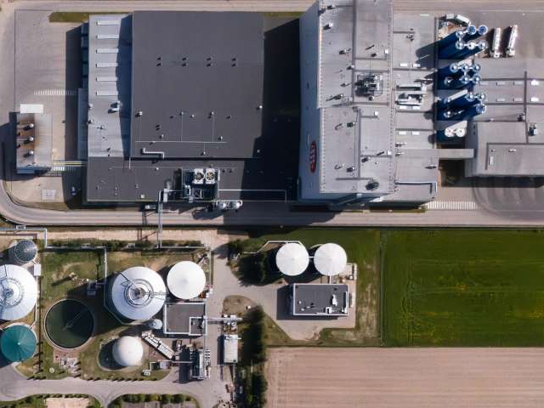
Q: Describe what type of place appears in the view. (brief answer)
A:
industrial area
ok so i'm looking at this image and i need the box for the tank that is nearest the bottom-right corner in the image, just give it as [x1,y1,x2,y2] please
[308,243,347,277]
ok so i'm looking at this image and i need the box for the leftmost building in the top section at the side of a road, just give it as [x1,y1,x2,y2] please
[17,104,52,175]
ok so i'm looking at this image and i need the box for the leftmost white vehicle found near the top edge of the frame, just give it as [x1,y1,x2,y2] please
[449,12,472,24]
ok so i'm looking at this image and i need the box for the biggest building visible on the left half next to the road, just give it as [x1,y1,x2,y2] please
[131,11,264,162]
